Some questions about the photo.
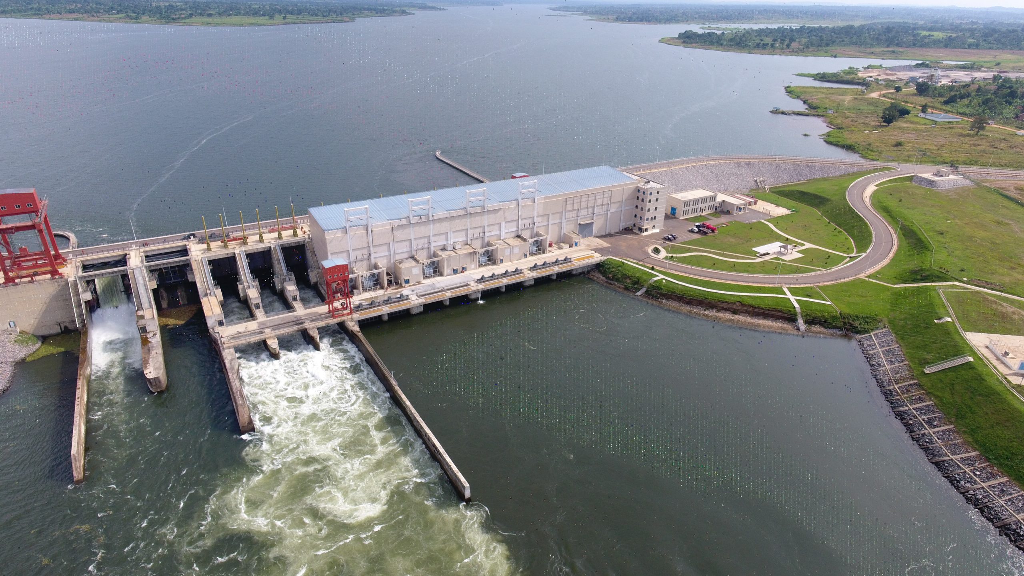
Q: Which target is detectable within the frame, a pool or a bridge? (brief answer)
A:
bridge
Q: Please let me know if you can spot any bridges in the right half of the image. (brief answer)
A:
No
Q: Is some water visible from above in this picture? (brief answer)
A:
Yes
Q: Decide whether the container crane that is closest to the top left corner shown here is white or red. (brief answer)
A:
red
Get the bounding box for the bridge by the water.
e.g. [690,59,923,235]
[210,298,352,351]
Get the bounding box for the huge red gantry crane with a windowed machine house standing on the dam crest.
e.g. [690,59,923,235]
[0,181,68,285]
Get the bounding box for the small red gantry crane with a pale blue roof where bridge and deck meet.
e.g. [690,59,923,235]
[319,257,354,319]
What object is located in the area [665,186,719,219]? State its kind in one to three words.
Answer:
building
